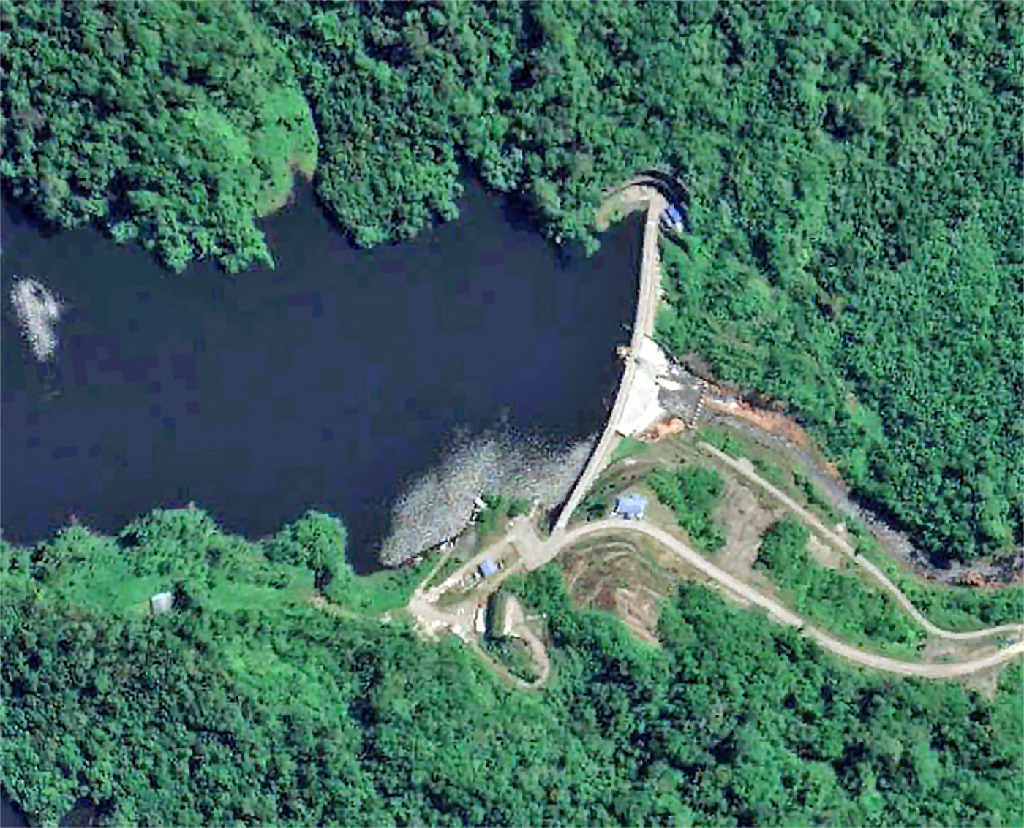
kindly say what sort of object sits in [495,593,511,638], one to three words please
shed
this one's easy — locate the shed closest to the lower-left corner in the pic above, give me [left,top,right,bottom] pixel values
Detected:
[152,592,173,612]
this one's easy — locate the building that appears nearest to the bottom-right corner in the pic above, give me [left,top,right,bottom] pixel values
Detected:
[616,497,646,519]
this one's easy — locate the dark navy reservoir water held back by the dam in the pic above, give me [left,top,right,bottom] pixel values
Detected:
[0,173,647,580]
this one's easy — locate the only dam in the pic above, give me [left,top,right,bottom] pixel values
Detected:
[553,202,721,538]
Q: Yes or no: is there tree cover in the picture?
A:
Yes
